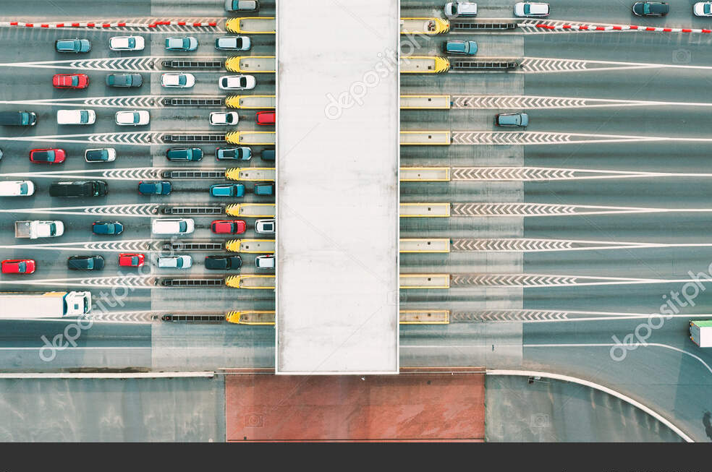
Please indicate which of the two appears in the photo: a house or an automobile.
automobile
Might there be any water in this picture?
No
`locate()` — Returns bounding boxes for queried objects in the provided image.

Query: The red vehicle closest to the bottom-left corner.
[0,259,36,276]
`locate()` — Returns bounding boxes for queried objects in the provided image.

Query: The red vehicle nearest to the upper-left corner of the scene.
[52,72,89,90]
